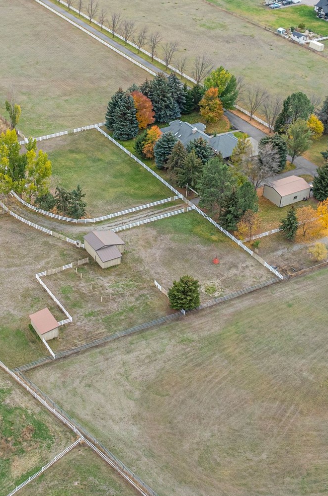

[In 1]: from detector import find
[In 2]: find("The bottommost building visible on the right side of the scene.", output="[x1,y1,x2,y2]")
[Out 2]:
[261,176,313,207]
